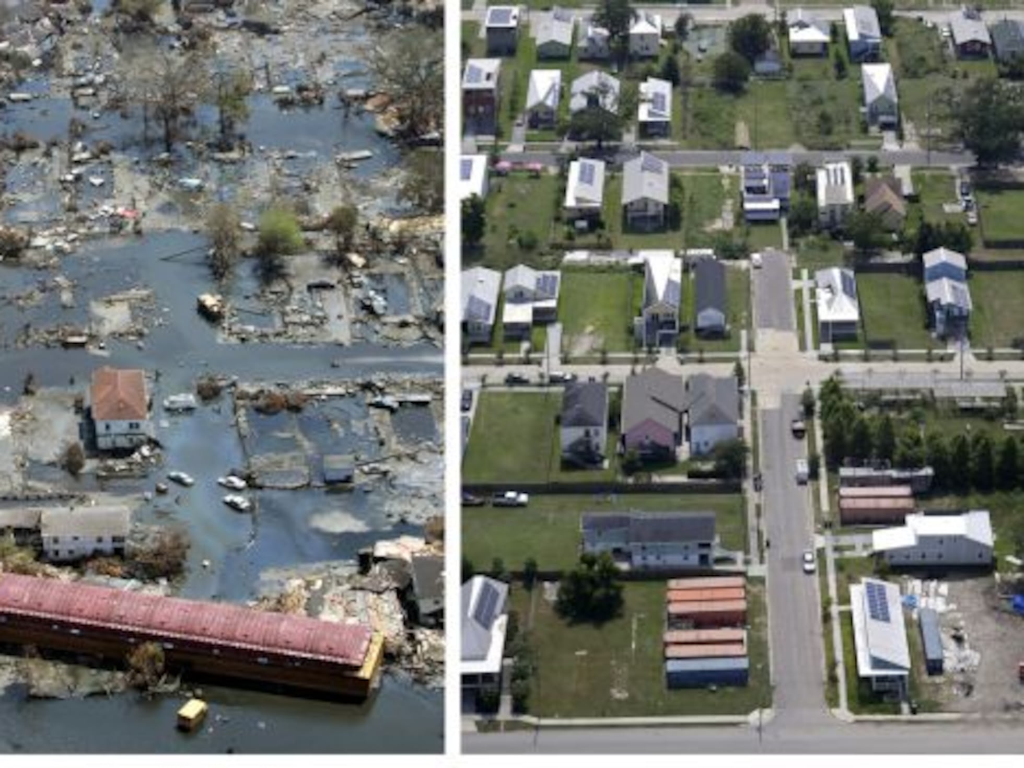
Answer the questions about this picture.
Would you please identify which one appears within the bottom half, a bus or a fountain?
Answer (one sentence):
The feature located within the bottom half is a bus.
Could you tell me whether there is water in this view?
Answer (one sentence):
Yes, there is water in the image.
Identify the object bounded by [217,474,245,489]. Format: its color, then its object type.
white car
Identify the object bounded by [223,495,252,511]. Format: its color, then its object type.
white car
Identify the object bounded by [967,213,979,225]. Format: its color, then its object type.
gray vehicle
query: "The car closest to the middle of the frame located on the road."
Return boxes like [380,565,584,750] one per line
[505,374,530,386]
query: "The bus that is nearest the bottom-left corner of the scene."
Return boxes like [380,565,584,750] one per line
[178,700,211,732]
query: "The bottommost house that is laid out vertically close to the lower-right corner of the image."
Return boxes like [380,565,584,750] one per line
[846,576,909,715]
